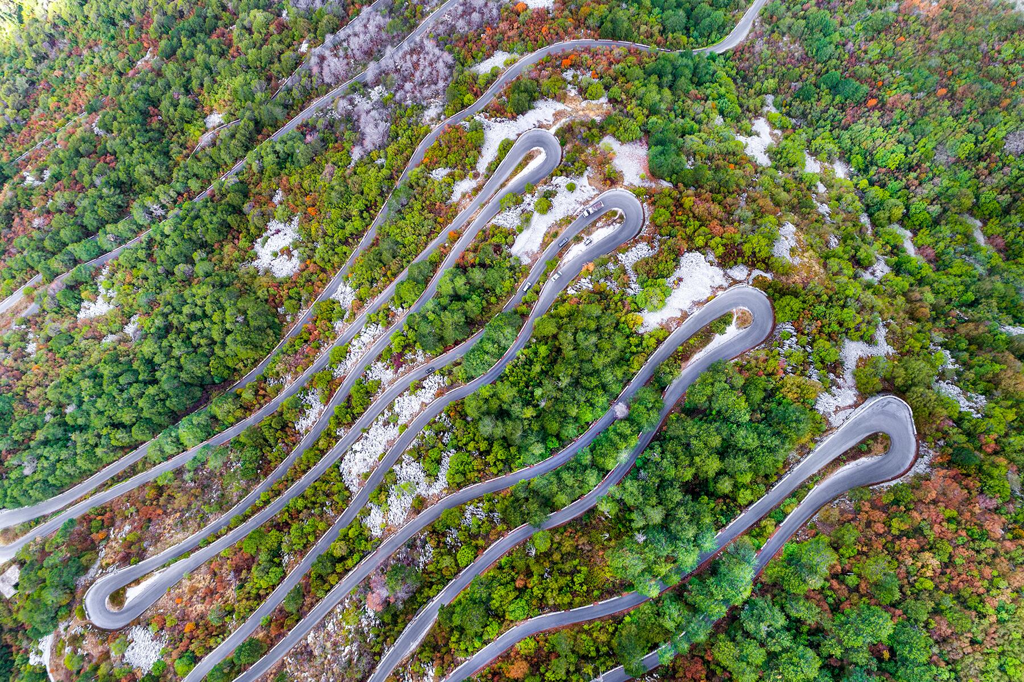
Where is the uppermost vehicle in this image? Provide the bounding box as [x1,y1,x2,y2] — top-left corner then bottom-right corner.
[584,199,604,218]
